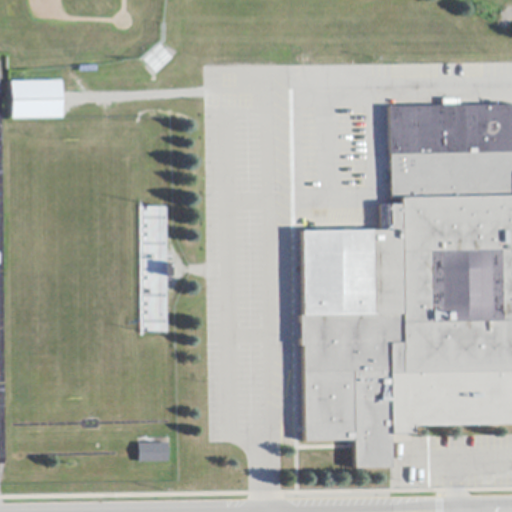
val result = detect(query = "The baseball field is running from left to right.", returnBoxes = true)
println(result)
[30,0,132,28]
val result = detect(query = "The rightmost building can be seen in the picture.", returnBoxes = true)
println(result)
[300,103,512,468]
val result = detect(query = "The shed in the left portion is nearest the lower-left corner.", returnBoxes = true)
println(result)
[138,442,168,462]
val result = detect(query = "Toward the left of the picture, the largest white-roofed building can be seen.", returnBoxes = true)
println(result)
[12,79,64,119]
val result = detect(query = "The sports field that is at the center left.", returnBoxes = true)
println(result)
[11,124,133,417]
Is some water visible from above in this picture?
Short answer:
No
